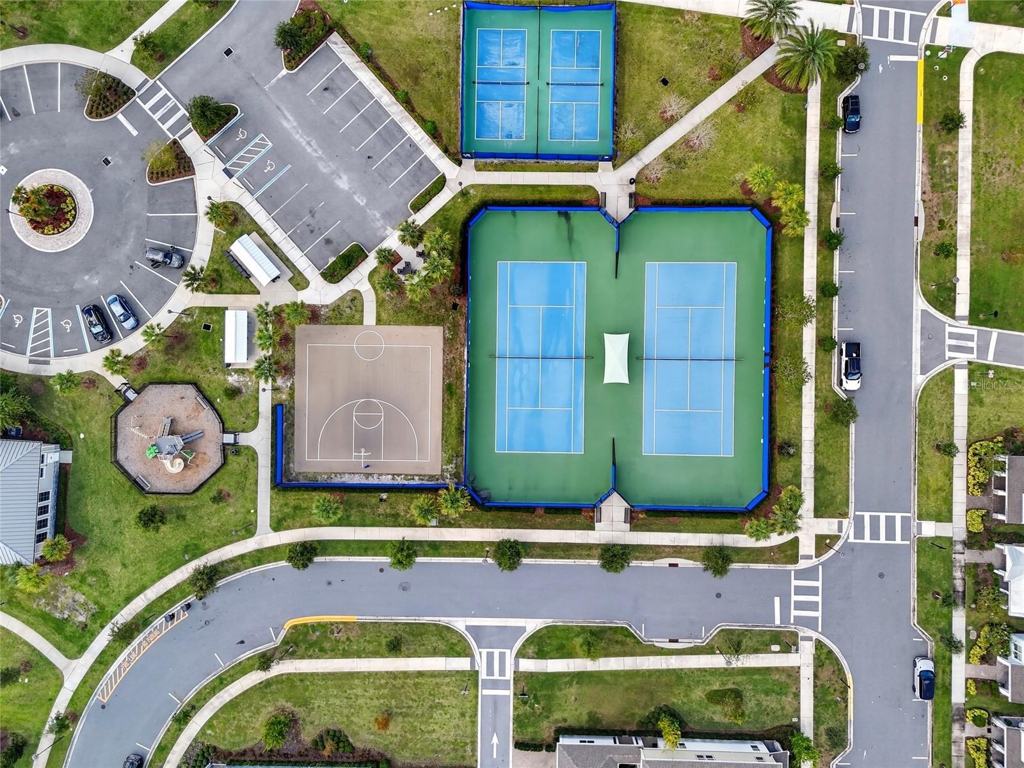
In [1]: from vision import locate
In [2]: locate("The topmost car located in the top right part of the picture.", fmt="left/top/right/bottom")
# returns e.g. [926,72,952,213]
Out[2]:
[840,94,863,135]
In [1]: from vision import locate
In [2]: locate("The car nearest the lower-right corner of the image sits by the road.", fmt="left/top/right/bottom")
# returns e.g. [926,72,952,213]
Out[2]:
[913,656,936,699]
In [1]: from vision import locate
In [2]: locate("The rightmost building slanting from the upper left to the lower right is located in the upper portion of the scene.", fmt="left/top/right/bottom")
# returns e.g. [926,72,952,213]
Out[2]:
[230,234,284,287]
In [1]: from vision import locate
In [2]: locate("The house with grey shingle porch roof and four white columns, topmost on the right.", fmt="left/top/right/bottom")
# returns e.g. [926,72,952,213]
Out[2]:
[993,454,1024,526]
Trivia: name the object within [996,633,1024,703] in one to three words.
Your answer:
house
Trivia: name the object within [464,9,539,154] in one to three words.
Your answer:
sports court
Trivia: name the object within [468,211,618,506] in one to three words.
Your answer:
tennis court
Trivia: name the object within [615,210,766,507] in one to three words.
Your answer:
tennis court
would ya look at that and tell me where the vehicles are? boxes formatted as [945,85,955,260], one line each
[145,248,187,272]
[841,342,863,390]
[123,750,147,768]
[81,303,114,343]
[840,94,863,135]
[913,656,936,699]
[107,293,139,330]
